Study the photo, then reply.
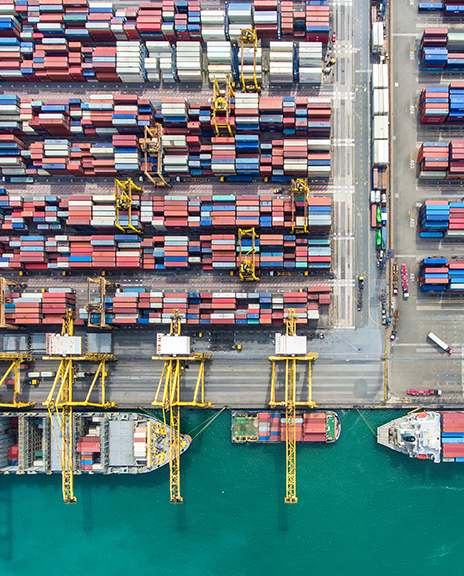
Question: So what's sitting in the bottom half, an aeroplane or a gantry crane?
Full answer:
You can see a gantry crane in the bottom half.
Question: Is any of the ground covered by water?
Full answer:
Yes, some water is visible.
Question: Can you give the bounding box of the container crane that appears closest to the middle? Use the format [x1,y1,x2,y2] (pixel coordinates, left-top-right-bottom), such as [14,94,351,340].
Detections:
[235,226,264,284]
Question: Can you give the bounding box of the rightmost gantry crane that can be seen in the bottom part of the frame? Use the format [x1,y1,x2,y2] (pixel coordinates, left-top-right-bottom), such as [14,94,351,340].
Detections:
[266,308,319,503]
